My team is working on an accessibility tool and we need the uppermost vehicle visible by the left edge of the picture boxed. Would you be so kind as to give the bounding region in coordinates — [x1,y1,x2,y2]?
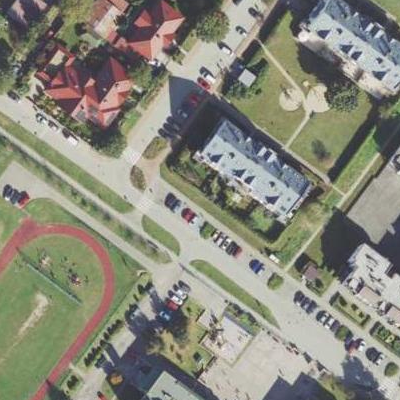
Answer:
[5,90,20,102]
